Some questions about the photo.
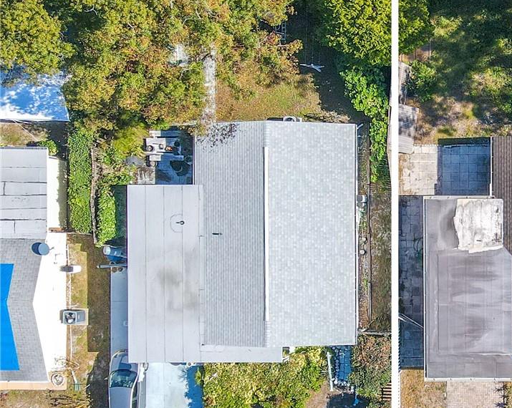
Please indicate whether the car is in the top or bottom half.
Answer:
bottom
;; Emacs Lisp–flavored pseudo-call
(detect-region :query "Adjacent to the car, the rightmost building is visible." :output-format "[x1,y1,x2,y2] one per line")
[99,121,362,362]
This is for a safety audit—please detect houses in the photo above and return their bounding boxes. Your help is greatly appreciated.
[0,146,67,382]
[99,121,362,362]
[423,136,512,382]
